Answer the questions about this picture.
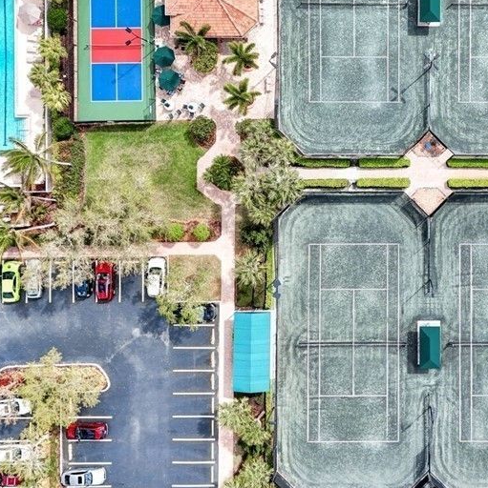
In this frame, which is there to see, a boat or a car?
car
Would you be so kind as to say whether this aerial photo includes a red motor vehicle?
Yes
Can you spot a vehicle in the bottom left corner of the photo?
Yes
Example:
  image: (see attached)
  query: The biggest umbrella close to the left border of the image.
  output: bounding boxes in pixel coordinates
[21,3,45,25]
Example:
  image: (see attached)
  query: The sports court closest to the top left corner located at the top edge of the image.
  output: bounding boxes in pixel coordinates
[76,0,155,123]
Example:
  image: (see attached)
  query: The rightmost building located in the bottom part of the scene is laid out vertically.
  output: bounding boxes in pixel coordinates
[418,323,440,370]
